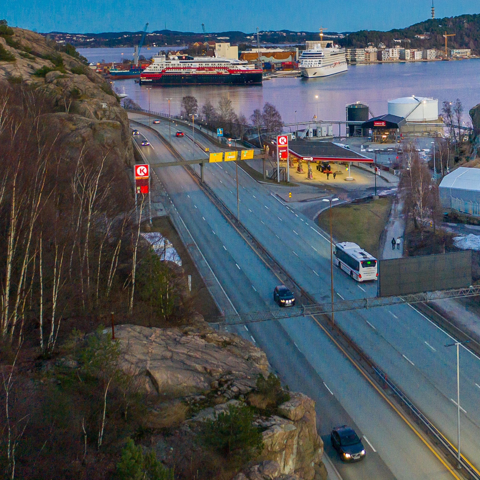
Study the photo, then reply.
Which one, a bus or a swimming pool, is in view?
bus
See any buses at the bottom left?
No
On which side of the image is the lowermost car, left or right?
right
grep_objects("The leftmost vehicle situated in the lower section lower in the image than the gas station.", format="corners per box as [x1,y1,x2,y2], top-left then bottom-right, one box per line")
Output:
[273,283,295,305]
